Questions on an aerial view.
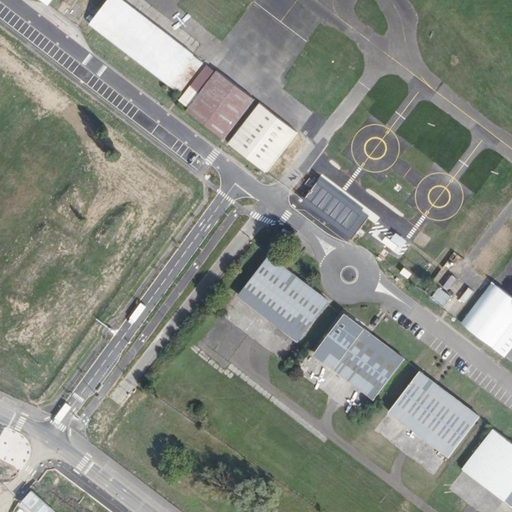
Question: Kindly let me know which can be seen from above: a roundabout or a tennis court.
roundabout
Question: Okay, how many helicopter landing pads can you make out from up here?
two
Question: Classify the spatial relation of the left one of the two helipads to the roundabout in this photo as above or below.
above it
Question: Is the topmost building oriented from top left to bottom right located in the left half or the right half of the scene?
left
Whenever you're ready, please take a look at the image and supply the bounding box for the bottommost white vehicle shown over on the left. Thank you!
[52,404,70,424]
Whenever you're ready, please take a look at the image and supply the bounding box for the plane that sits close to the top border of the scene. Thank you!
[174,12,190,29]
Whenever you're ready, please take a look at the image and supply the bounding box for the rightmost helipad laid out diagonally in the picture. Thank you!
[415,140,482,222]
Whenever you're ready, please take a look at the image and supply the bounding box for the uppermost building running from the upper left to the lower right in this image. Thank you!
[89,0,204,92]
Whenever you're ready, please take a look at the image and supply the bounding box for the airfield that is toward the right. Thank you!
[126,0,512,240]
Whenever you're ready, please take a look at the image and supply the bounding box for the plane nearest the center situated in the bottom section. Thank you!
[310,368,325,390]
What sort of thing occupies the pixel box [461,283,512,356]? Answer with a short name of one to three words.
hangar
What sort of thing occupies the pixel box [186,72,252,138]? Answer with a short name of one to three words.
building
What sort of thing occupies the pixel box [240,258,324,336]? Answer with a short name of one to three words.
hangar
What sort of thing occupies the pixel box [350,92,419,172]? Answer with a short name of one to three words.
helipad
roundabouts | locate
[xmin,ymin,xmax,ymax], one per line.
[314,234,409,307]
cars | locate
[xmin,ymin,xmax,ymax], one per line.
[19,484,28,495]
[456,358,465,369]
[403,318,412,328]
[416,328,425,339]
[306,176,315,186]
[84,12,93,23]
[398,314,408,324]
[410,322,420,333]
[394,310,402,320]
[441,349,450,360]
[460,364,470,374]
[187,152,196,162]
[372,316,380,326]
